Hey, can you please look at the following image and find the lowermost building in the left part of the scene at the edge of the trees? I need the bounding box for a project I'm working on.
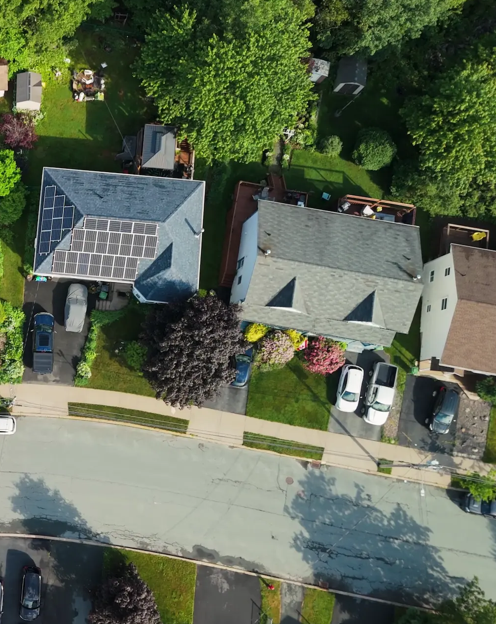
[32,167,206,308]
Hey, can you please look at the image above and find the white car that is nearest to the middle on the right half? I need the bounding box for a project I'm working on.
[335,364,362,413]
